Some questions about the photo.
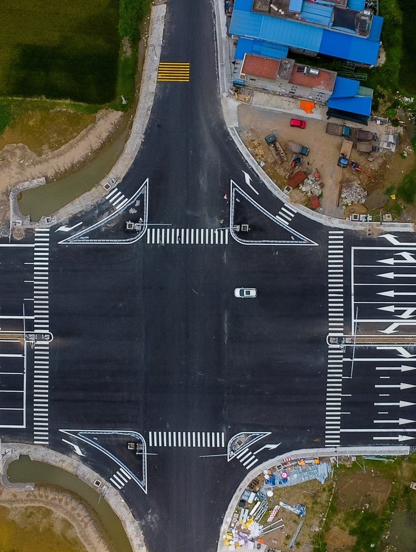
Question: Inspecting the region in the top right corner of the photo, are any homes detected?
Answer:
Yes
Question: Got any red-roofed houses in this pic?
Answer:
Yes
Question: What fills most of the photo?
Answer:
paved ground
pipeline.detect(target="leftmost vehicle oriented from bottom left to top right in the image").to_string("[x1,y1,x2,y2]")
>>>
[282,152,305,177]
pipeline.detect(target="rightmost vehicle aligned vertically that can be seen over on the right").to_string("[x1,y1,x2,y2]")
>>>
[338,138,355,167]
